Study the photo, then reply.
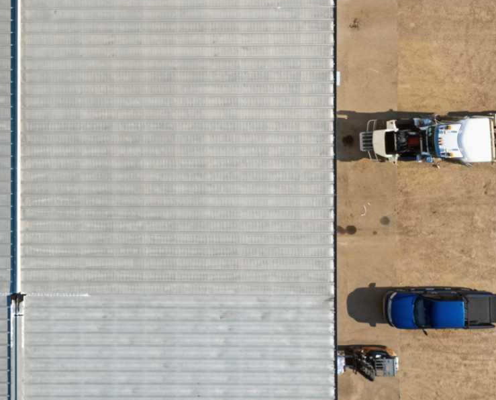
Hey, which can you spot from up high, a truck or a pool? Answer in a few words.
truck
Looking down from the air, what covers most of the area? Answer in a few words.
buildings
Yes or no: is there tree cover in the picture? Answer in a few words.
No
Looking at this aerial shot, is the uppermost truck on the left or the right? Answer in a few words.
right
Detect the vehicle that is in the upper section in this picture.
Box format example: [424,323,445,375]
[356,113,496,171]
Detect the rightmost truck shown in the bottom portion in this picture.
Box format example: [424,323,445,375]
[379,288,496,336]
